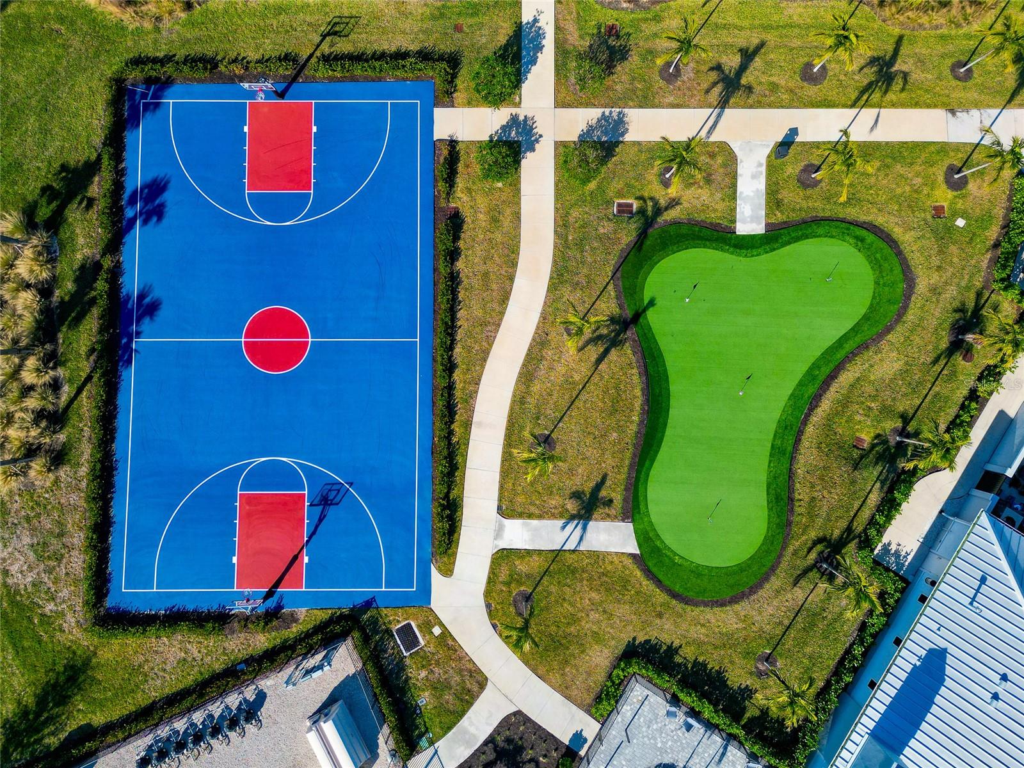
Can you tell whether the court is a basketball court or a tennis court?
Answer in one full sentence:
Specifically, the court is a basketball court.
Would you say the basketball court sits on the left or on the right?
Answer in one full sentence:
The basketball court sits on the left side.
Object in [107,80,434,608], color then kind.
blue basketball court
